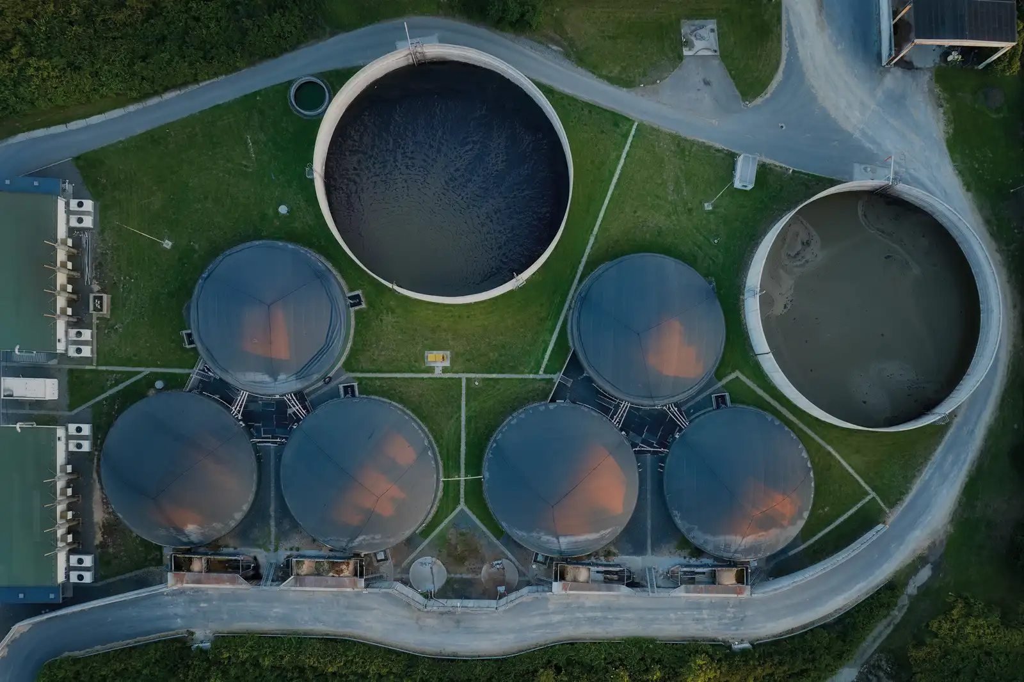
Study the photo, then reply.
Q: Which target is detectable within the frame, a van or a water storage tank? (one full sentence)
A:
The image shows a water storage tank.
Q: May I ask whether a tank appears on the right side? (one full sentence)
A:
Yes, I can see a tank on the right side.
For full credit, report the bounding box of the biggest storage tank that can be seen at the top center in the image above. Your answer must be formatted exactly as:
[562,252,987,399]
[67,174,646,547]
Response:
[313,44,572,304]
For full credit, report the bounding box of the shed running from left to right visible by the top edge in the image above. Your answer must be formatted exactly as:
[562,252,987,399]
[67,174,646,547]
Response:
[880,0,1023,66]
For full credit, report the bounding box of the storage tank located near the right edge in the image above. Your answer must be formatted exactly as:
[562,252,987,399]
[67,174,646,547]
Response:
[743,182,1004,429]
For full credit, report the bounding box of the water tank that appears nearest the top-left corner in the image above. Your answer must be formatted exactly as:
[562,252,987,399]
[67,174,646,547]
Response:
[292,79,333,120]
